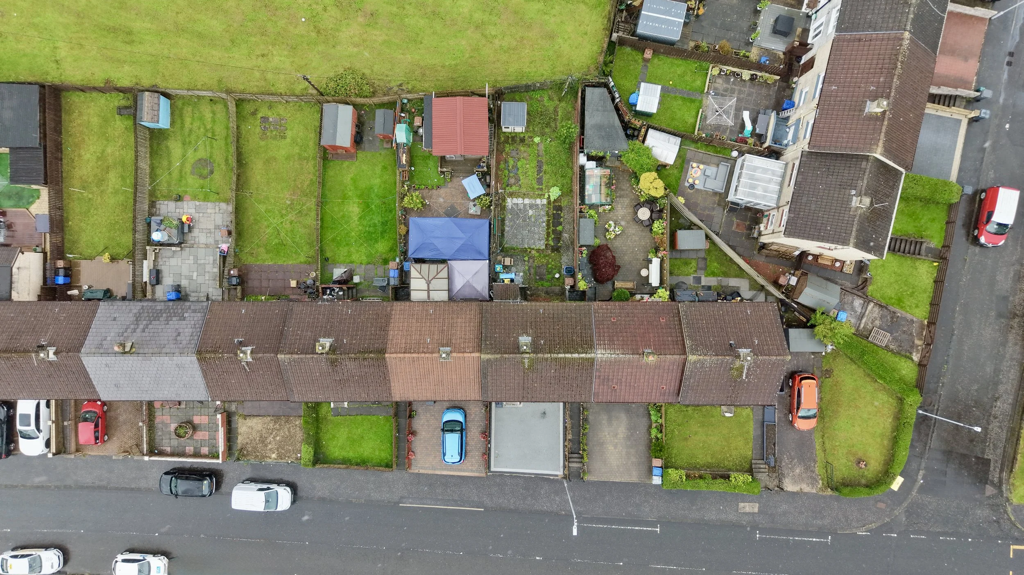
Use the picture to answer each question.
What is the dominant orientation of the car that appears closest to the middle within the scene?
from top to bottom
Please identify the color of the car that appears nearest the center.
blue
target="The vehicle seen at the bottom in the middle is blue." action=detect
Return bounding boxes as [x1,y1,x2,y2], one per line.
[439,407,469,464]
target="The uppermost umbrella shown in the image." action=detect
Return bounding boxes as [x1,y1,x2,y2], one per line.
[462,174,485,199]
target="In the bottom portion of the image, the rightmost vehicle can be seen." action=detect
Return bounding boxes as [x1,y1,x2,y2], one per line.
[790,371,826,430]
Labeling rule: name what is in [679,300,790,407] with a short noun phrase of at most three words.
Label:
house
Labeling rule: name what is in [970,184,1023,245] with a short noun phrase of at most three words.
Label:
van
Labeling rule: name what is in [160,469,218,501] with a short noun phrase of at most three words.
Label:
car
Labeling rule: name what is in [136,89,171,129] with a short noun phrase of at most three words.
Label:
shed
